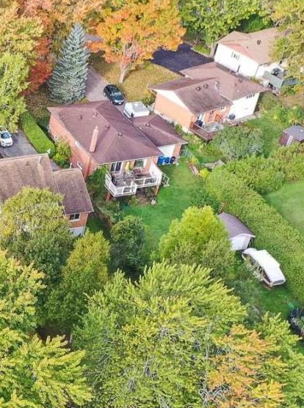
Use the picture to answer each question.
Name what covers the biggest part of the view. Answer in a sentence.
What you mostly see from above here is trees.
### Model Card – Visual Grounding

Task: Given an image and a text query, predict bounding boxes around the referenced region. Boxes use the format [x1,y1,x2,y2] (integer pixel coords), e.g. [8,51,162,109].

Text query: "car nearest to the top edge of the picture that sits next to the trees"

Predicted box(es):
[106,79,126,101]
